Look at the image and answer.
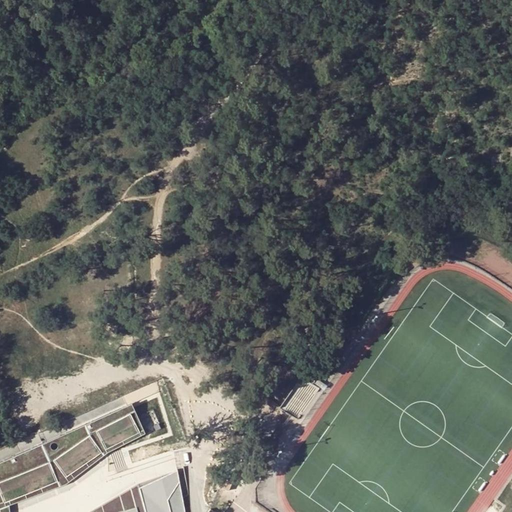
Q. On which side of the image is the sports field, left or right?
right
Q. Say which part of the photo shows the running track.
bottom right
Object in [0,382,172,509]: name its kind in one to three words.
building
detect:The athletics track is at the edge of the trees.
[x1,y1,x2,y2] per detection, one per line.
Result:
[276,262,512,512]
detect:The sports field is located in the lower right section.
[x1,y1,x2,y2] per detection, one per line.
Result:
[284,270,512,512]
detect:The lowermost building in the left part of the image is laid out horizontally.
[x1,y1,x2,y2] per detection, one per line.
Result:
[85,470,186,512]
